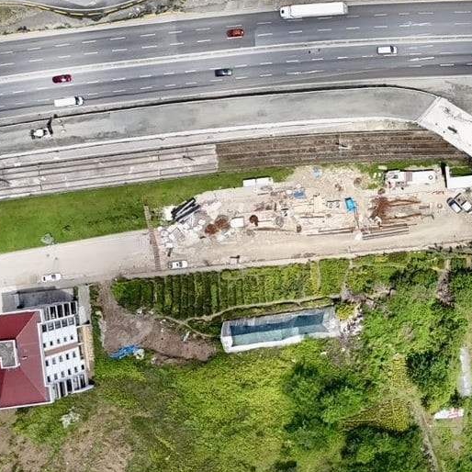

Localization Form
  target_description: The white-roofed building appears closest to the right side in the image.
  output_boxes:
[446,167,472,189]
